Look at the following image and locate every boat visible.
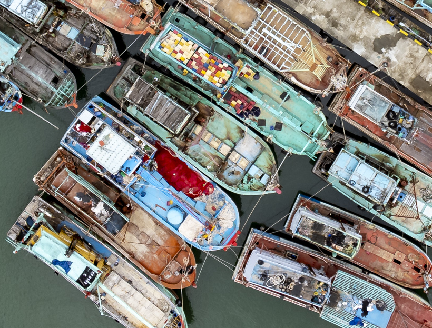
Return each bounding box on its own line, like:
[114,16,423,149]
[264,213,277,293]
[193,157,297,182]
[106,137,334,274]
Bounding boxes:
[0,15,80,113]
[328,63,432,177]
[5,197,188,328]
[174,0,352,94]
[106,57,281,195]
[283,194,432,289]
[73,0,164,35]
[0,69,59,129]
[313,134,432,247]
[231,229,432,328]
[0,0,119,70]
[34,146,198,289]
[141,5,332,160]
